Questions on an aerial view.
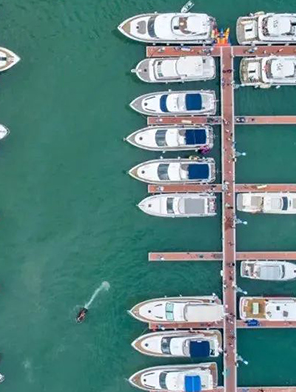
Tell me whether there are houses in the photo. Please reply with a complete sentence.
No, this view has no house in it.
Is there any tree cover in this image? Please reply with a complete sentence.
No, there's no tree cover in this view.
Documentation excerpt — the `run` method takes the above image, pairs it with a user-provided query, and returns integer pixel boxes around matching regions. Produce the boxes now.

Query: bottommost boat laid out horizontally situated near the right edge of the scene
[236,295,296,321]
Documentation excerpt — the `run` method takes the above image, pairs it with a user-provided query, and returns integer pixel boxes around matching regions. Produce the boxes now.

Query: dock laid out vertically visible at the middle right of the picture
[220,46,236,392]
